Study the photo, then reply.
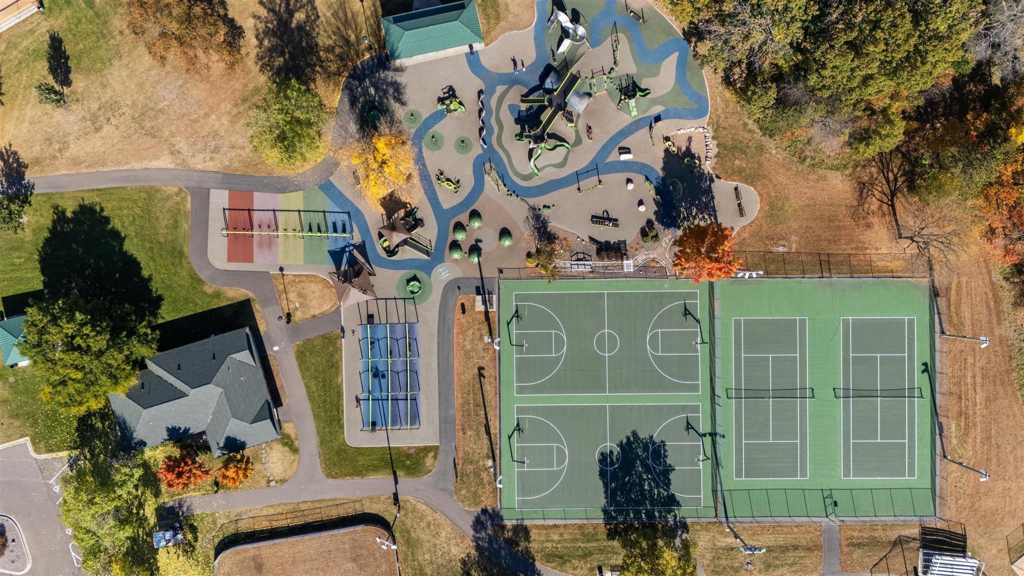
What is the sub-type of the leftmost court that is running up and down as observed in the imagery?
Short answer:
tennis court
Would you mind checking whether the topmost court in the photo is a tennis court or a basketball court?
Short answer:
basketball court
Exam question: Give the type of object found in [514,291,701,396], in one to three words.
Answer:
basketball court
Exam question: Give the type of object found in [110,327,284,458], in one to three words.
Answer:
building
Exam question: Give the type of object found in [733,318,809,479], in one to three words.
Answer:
tennis court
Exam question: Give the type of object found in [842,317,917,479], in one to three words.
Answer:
tennis court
